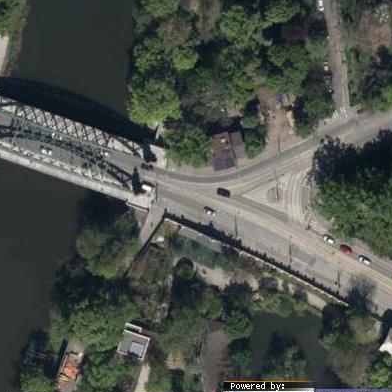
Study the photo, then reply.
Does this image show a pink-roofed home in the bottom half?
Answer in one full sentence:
No, no pink-roofed home appears in the bottom half.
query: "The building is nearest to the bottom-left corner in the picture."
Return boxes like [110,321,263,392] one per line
[117,322,148,361]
